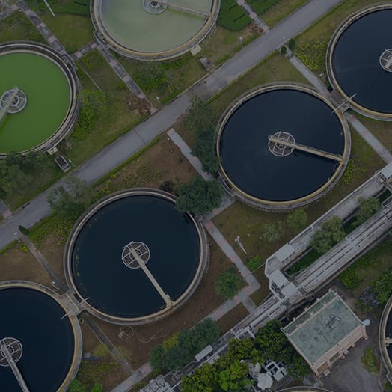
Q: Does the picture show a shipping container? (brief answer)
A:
No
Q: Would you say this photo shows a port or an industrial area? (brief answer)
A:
industrial area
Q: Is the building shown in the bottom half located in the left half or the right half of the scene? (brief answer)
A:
right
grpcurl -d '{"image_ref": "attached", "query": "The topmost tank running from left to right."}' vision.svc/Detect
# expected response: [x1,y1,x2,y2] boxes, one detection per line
[91,0,221,62]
